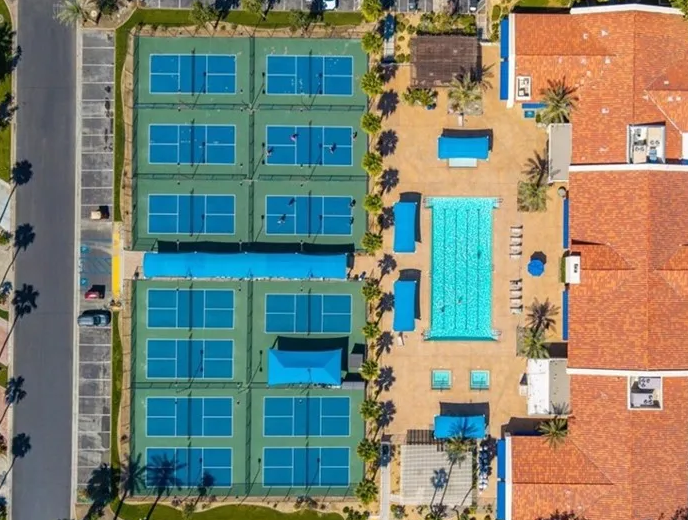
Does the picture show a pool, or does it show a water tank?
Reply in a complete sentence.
There is a pool in the scene.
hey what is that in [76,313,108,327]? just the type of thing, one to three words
car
